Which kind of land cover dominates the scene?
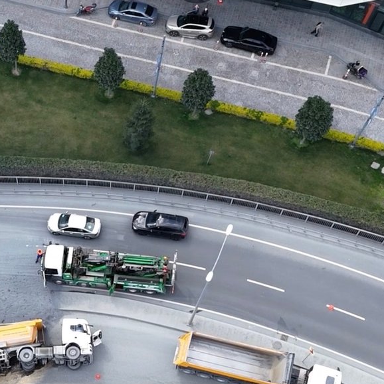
paved ground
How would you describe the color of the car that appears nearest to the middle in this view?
black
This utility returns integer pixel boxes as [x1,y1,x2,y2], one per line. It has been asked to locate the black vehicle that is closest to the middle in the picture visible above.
[132,212,188,241]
